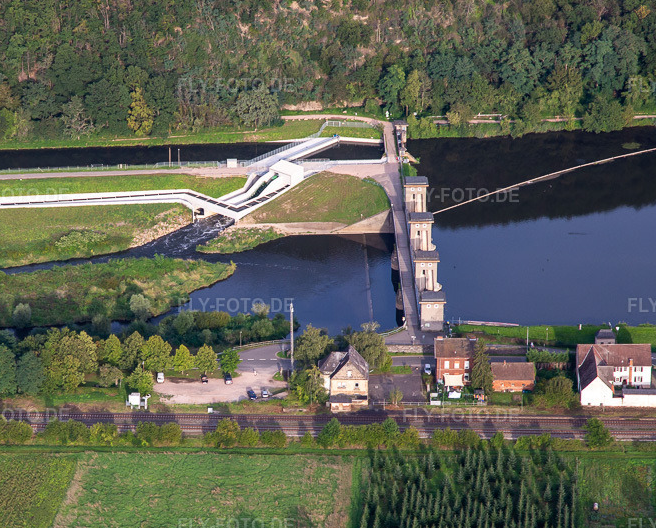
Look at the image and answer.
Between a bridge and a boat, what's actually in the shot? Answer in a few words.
bridge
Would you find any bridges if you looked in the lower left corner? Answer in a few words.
No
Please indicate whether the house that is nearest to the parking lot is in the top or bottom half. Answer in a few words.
bottom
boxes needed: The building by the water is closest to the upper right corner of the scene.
[395,123,411,156]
